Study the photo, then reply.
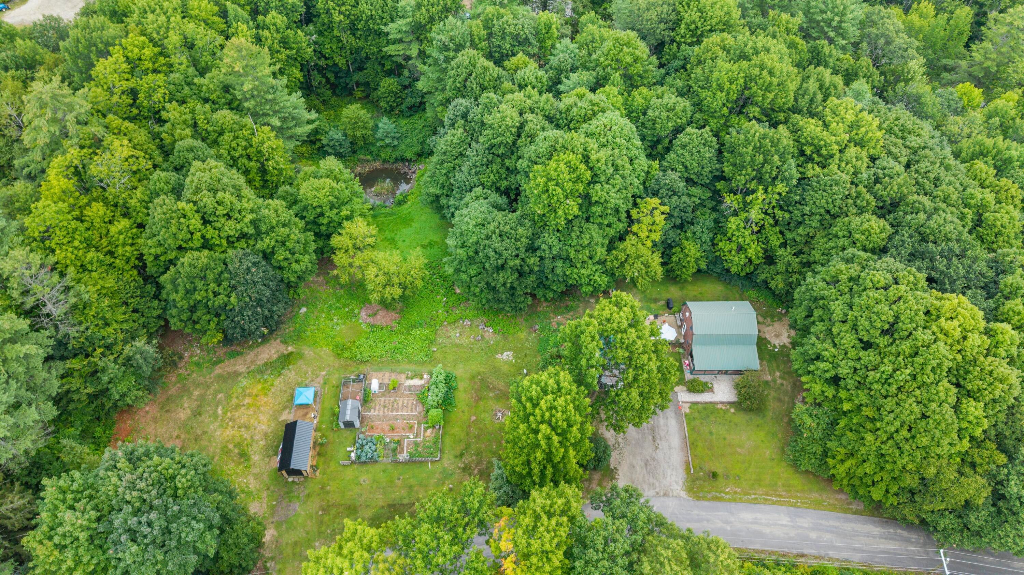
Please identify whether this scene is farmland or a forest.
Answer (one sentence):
This image shows a forest.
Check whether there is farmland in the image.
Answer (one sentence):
No, the scene doesn't show any farmland.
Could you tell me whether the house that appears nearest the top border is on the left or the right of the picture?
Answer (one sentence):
The house that appears nearest the top border sits on the right side.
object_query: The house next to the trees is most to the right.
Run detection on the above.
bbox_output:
[680,301,759,375]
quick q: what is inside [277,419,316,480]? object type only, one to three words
shed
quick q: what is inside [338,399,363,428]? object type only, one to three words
shed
